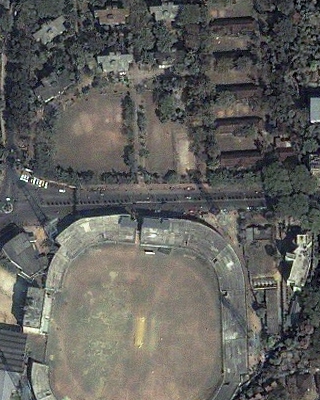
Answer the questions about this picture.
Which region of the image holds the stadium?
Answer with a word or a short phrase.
bottom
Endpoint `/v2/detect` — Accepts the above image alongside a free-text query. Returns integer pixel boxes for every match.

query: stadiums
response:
[23,212,247,400]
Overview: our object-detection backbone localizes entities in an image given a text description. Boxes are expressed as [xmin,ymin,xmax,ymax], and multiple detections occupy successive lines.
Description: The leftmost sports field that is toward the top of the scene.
[54,92,128,172]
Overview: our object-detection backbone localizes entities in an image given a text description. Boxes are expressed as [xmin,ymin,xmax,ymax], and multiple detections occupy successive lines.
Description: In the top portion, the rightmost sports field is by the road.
[143,88,199,172]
